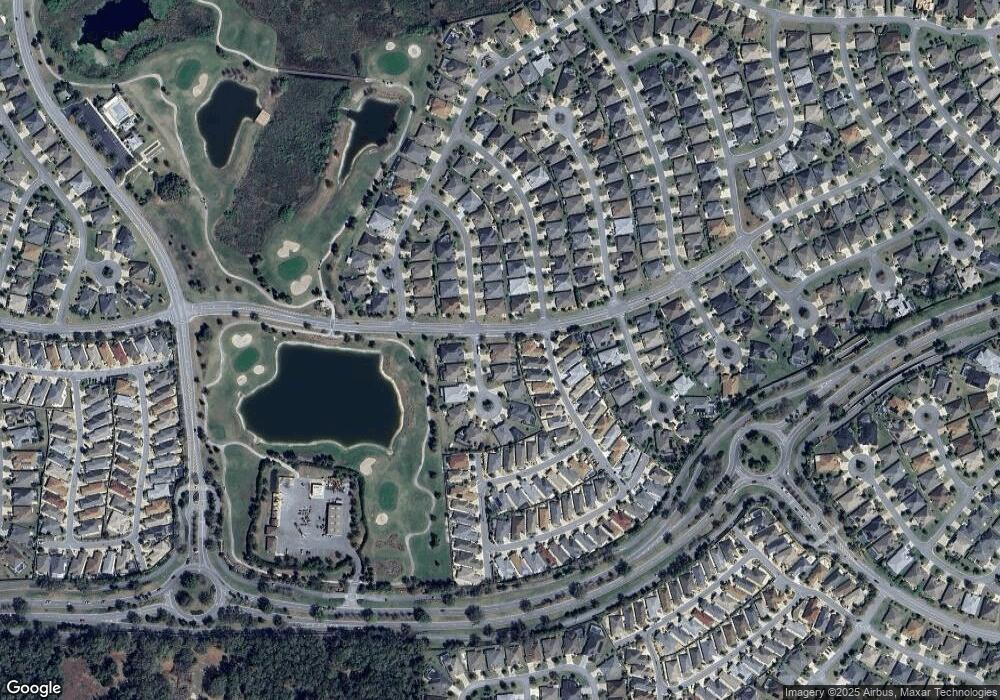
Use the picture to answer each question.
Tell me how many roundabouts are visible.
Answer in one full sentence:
The photo contains 2 roundabouts.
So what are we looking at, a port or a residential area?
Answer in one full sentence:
It's a residential area.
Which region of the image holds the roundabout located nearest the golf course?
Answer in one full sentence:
The roundabout located nearest the golf course is in the bottom left part of the image.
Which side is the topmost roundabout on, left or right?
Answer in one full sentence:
The topmost roundabout is on the right side of the image.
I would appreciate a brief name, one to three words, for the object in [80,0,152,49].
pond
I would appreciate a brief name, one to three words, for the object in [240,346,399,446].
pond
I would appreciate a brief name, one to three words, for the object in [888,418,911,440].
house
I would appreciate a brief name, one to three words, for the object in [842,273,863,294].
house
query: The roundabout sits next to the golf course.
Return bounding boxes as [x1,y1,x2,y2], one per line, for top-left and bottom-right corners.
[166,563,225,622]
